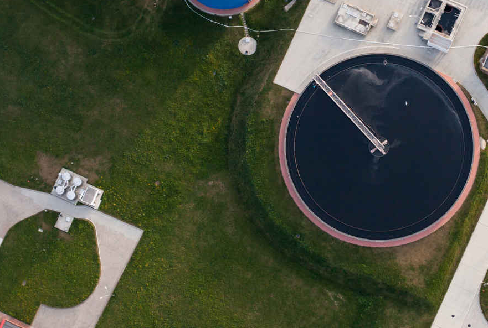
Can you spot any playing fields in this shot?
No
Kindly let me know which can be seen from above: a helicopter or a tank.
tank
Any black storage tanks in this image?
Yes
